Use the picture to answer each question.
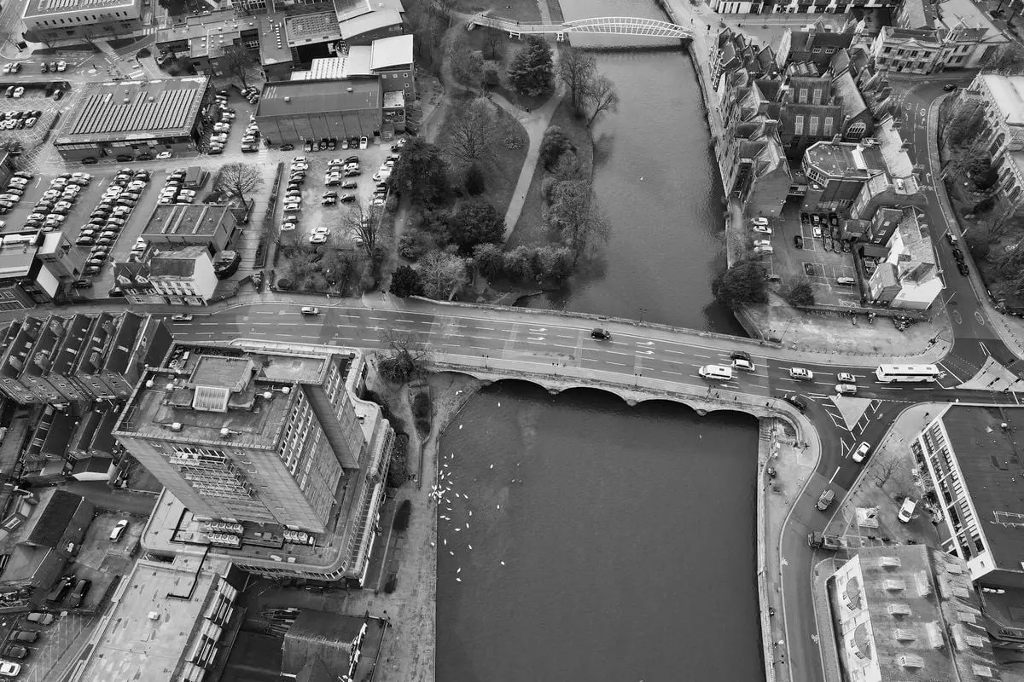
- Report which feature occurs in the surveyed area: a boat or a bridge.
bridge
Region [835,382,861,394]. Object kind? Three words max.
vehicle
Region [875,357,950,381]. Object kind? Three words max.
bus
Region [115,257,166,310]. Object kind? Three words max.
house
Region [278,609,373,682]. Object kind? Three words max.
building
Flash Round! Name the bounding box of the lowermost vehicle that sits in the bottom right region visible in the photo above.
[809,529,855,551]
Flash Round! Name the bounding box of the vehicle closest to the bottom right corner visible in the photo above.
[898,491,920,523]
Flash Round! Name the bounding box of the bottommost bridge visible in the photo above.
[410,291,772,420]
